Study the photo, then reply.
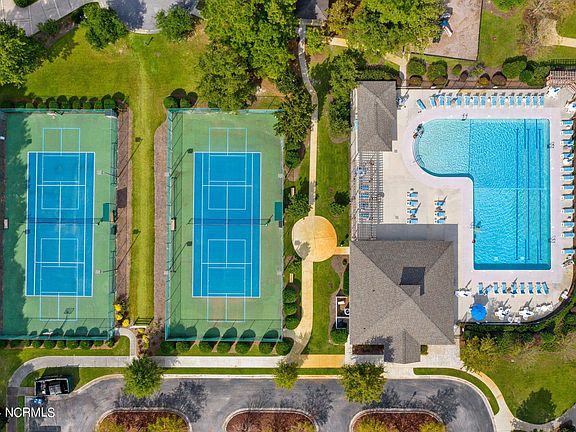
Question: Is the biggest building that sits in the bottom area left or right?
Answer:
right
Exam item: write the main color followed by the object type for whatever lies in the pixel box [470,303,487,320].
blue umbrella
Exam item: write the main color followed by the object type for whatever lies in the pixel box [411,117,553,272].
blue swimming pool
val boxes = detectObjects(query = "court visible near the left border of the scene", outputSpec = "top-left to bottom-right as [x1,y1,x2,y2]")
[1,111,119,338]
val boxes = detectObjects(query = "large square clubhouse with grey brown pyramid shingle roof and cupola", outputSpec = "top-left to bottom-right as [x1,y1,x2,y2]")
[350,241,453,364]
